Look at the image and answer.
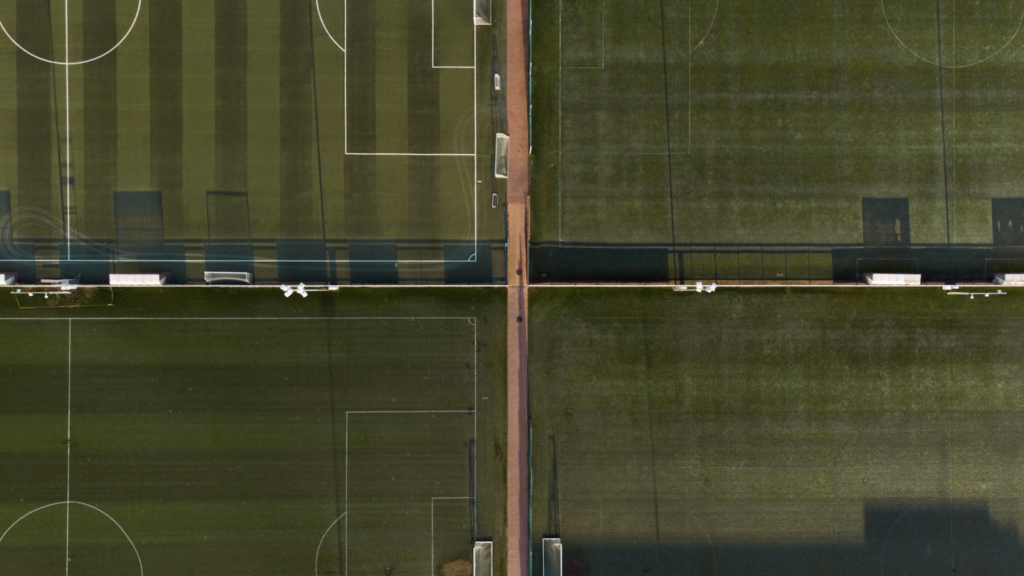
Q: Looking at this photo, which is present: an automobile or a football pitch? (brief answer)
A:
football pitch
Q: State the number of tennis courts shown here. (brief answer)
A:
0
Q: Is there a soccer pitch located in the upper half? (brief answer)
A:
Yes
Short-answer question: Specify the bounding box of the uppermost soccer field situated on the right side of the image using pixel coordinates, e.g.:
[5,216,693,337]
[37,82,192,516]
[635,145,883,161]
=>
[529,0,1024,284]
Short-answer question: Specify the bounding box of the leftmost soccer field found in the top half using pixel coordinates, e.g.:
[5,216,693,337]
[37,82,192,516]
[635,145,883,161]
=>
[0,0,507,285]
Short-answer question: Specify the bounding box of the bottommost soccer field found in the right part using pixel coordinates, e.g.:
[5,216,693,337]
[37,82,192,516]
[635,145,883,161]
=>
[529,286,1024,576]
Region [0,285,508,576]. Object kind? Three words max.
soccer field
